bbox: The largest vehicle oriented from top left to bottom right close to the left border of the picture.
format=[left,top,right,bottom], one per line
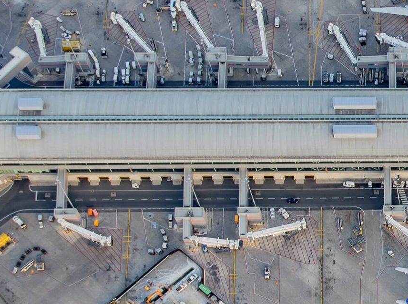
[12,216,27,229]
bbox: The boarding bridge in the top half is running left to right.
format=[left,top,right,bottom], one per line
[375,32,408,46]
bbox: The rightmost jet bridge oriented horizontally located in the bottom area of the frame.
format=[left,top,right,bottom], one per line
[246,218,311,244]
